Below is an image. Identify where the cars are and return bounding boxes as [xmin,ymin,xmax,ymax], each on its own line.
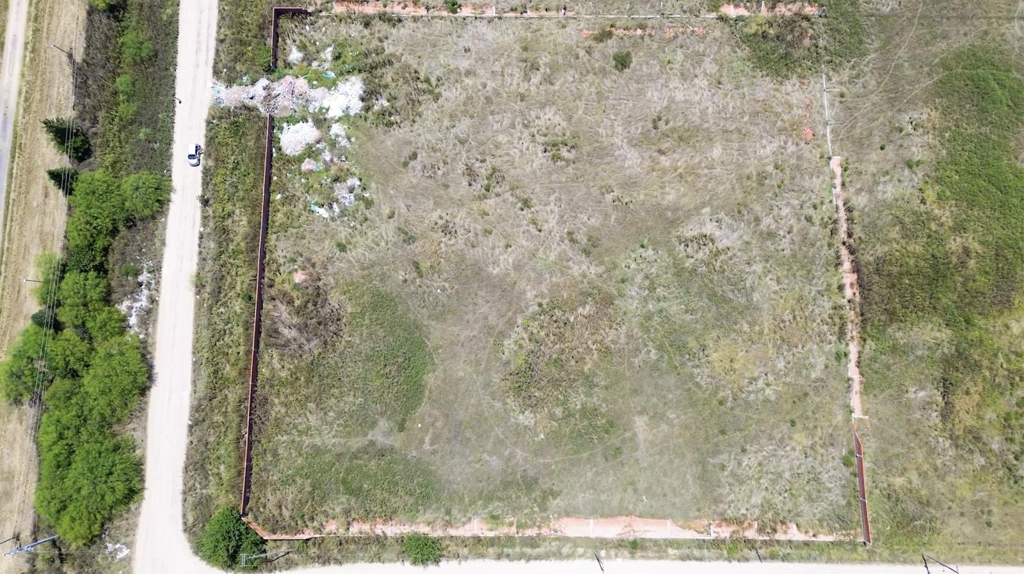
[187,143,205,167]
